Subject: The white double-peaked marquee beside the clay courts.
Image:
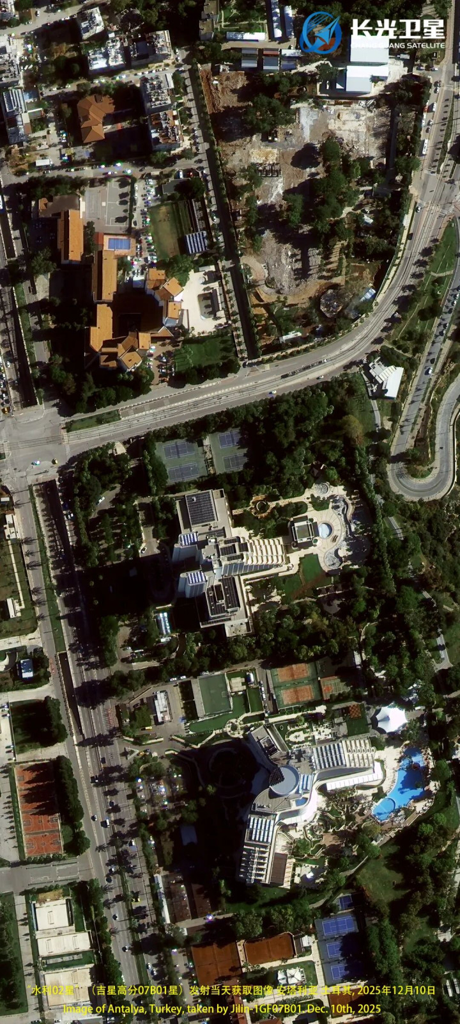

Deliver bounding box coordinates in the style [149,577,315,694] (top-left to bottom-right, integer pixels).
[278,968,304,984]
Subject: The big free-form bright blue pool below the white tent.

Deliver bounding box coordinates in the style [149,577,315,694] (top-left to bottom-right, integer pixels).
[371,745,429,822]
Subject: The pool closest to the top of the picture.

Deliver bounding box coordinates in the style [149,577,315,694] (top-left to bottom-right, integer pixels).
[197,291,215,318]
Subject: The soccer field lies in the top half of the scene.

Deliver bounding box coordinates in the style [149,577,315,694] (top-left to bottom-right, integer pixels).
[153,202,181,262]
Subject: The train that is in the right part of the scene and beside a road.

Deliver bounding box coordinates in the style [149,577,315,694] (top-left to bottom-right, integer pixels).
[281,357,328,377]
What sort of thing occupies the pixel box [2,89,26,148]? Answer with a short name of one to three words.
building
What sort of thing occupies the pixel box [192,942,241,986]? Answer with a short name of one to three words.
tennis court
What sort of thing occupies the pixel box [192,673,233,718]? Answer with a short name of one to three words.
sports field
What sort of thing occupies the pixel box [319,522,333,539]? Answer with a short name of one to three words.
swimming pool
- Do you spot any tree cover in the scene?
Yes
